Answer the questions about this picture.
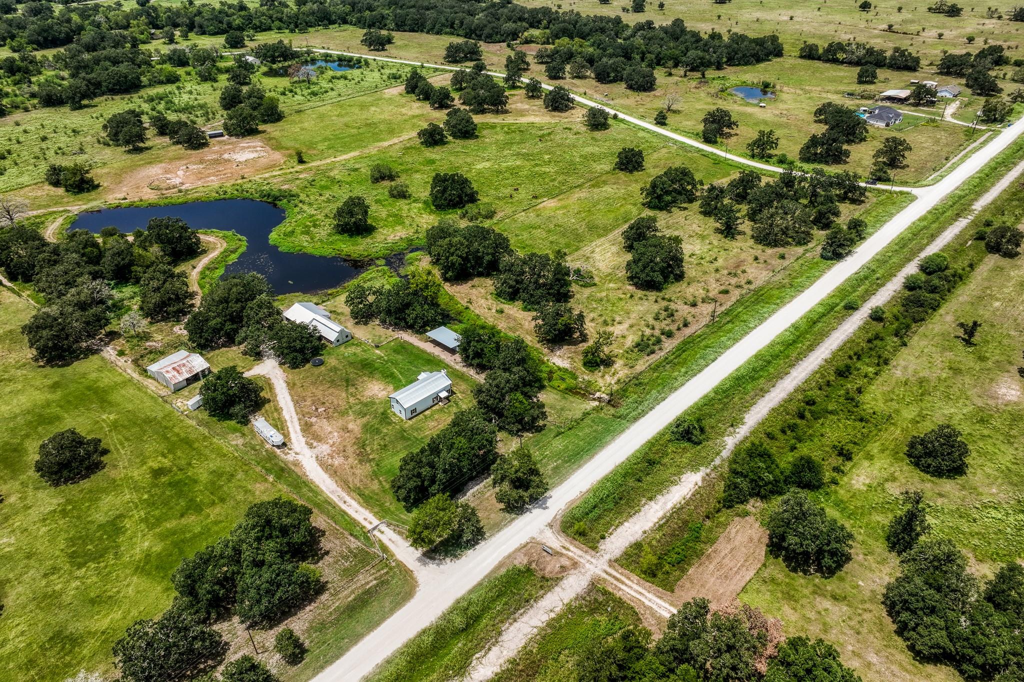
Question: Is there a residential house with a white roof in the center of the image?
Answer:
Yes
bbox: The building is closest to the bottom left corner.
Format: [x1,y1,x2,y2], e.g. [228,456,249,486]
[145,348,211,392]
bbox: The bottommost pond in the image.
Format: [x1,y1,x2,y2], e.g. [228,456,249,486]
[65,199,423,296]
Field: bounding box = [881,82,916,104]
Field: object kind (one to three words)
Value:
shed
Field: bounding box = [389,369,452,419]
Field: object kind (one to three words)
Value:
house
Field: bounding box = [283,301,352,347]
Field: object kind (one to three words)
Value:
barn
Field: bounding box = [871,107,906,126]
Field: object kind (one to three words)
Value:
house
